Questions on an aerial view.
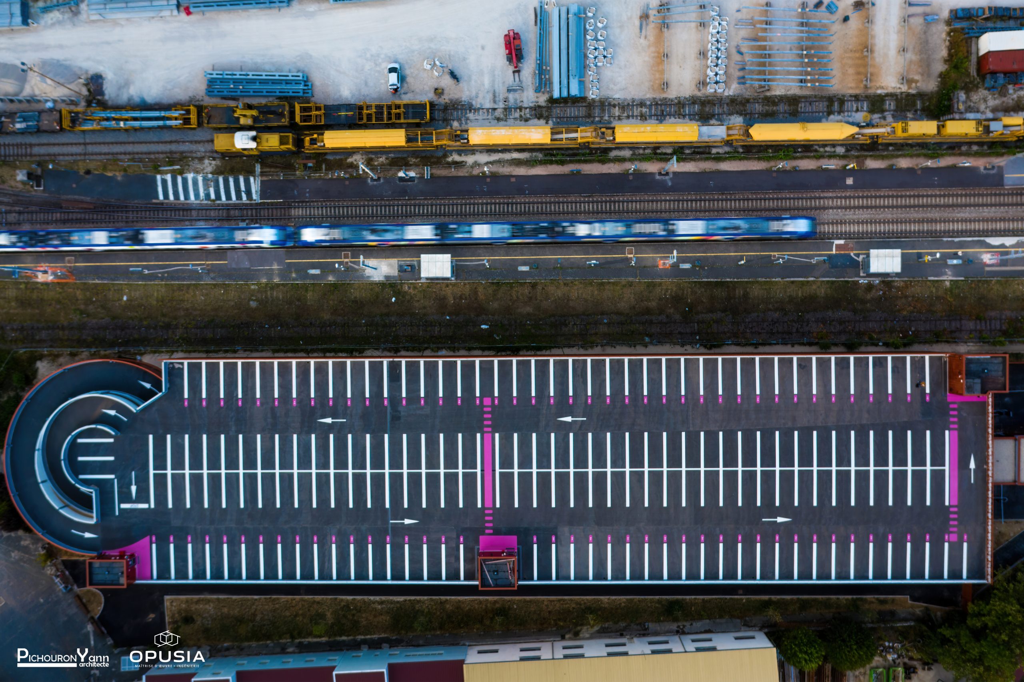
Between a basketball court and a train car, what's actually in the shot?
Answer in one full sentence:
The one in the frame is a train car.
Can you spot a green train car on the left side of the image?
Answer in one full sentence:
No, no green train car is visible on the left side of the image.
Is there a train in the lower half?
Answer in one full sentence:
No, no train appears in the lower half.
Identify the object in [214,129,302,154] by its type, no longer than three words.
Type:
rail car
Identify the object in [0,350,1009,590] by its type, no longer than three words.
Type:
building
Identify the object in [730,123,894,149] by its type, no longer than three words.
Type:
rail car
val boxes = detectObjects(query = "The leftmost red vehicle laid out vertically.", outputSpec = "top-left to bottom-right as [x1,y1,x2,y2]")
[503,26,524,83]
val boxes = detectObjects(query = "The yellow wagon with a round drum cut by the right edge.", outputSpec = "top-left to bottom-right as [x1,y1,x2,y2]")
[999,119,1024,144]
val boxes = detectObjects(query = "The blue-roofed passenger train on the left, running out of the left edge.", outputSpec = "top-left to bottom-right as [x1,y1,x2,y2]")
[0,223,298,251]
